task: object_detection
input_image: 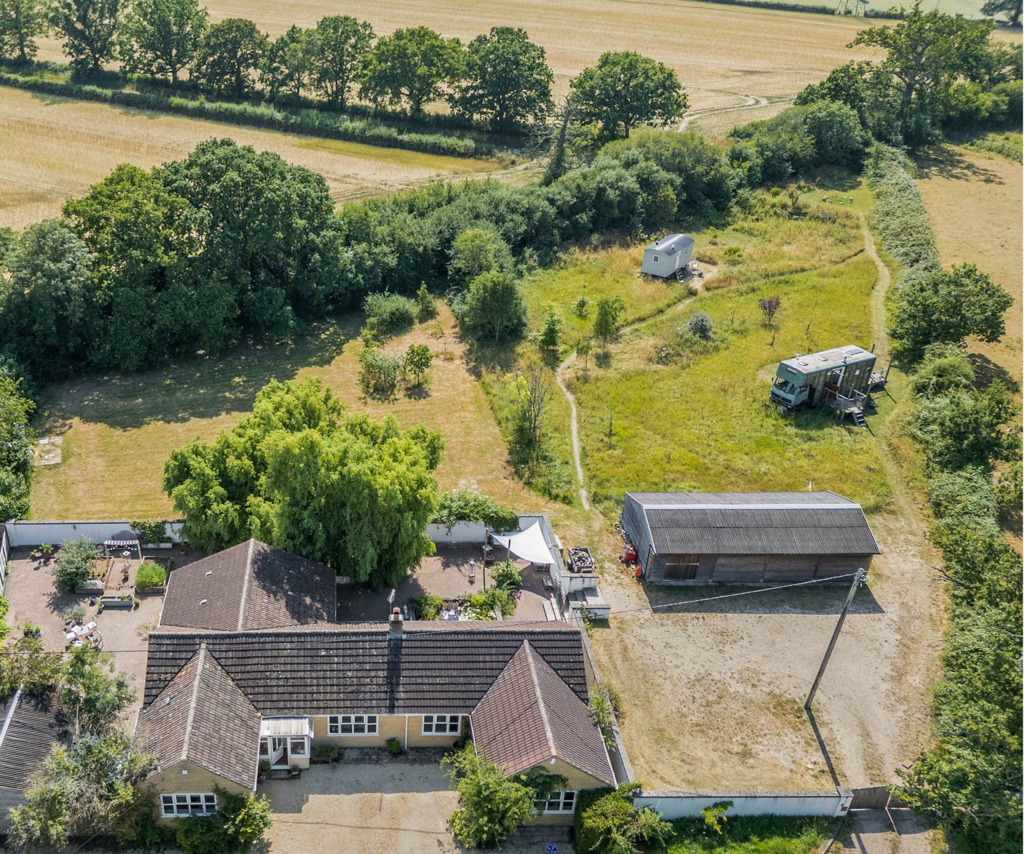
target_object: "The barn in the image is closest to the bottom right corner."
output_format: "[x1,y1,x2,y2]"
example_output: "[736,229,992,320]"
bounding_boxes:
[623,488,890,585]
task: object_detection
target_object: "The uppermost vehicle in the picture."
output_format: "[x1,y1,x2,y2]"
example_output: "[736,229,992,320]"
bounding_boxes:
[768,345,876,413]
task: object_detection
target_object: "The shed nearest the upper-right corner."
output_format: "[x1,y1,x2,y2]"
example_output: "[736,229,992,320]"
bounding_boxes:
[640,233,695,284]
